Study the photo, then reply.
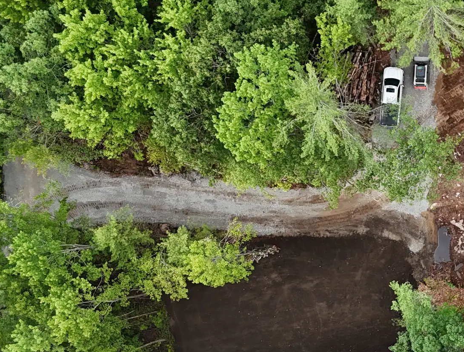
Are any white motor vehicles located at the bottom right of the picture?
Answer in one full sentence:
No, no white motor vehicle appears at the bottom right of the picture.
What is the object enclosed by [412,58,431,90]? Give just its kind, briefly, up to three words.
work vehicle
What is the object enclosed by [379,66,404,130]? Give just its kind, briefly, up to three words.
truck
